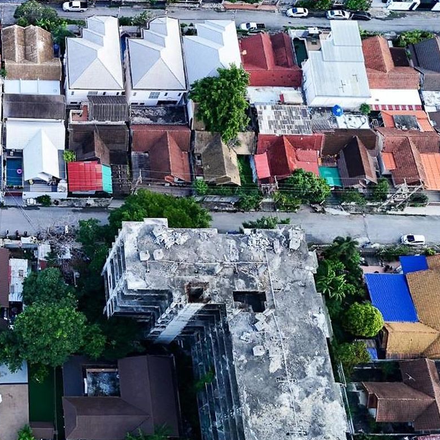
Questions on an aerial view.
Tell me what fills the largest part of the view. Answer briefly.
buildings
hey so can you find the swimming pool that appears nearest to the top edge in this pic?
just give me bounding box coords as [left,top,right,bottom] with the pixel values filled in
[294,36,308,65]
